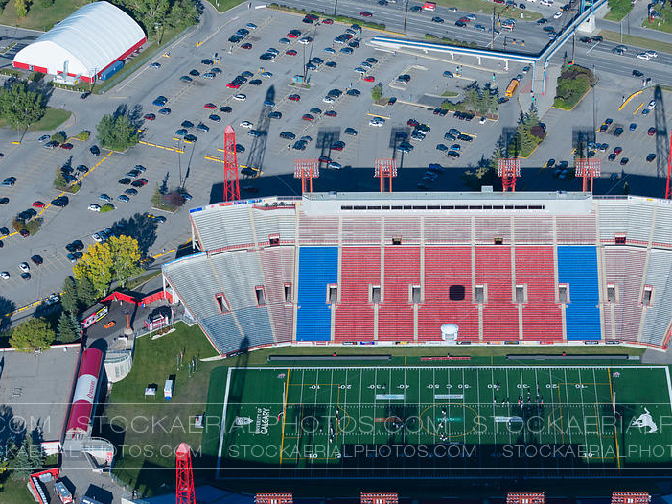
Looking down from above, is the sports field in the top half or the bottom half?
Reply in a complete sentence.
Seen from above, the sports field lies in the bottom half of the view.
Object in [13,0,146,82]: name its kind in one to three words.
building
